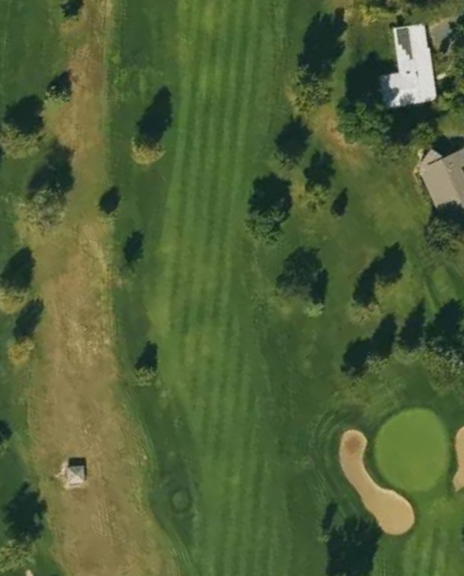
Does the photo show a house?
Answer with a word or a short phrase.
Yes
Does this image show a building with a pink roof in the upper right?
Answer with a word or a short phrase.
No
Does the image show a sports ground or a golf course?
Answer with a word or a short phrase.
golf course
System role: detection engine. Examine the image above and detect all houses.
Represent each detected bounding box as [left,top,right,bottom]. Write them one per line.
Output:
[417,147,464,224]
[382,23,436,108]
